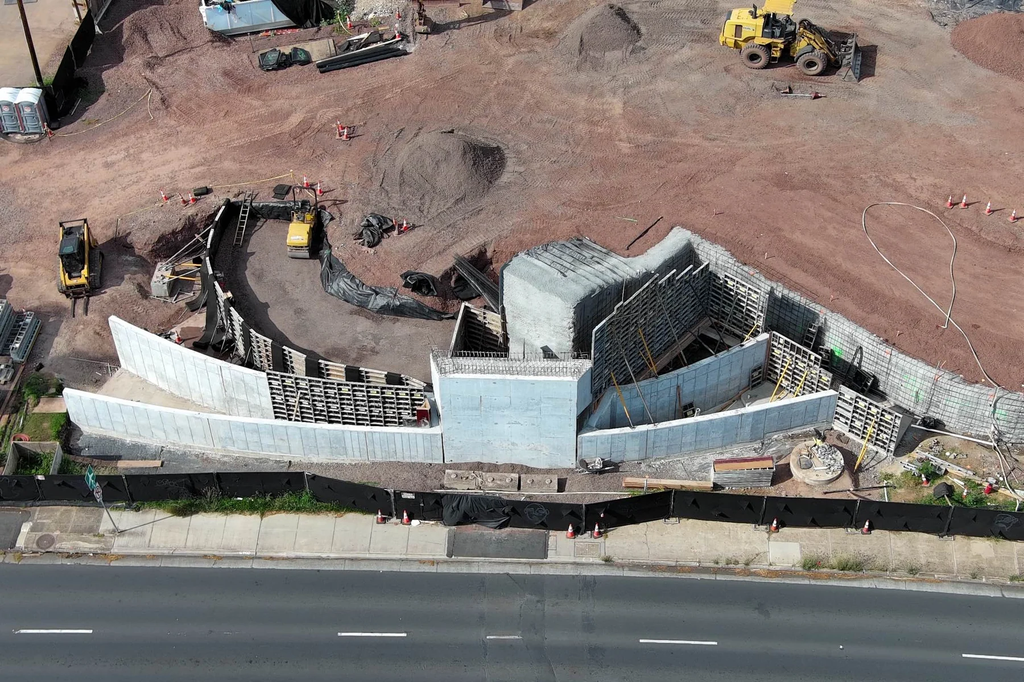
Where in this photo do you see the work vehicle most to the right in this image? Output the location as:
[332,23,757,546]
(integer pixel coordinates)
[711,0,859,87]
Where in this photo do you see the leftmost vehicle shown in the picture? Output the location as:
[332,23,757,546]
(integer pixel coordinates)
[55,215,106,314]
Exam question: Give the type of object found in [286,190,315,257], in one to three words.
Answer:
work vehicle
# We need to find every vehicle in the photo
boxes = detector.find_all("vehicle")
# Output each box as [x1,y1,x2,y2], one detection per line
[413,0,432,31]
[711,0,859,87]
[286,190,315,257]
[55,215,106,314]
